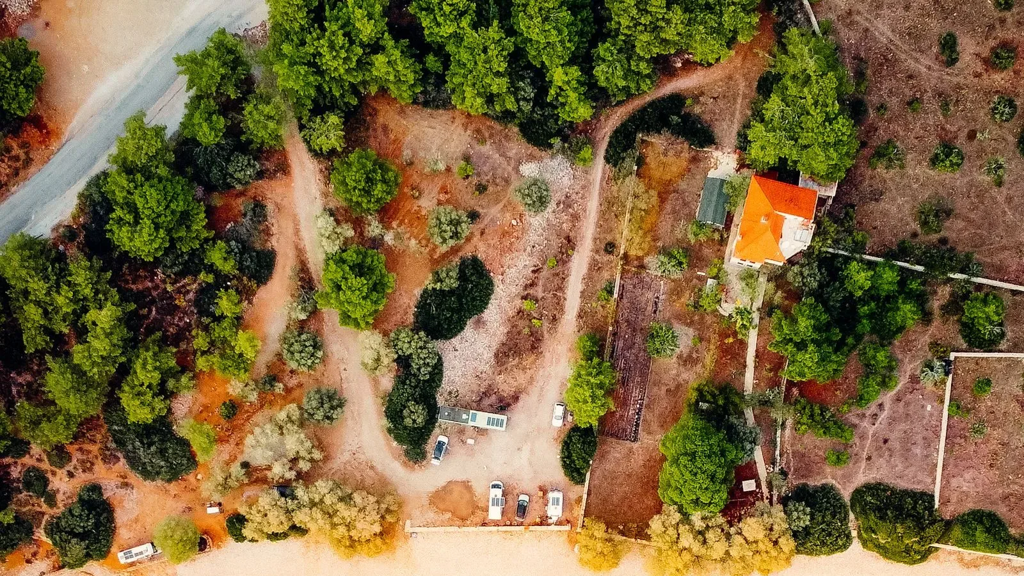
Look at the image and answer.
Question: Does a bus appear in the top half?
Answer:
No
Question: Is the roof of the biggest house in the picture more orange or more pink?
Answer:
orange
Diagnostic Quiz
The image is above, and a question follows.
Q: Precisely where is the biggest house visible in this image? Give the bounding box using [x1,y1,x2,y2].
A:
[725,175,819,269]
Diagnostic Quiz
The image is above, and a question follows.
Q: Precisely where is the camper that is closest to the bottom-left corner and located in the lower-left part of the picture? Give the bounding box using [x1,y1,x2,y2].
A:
[116,536,166,564]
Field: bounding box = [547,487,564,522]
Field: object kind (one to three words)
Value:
camper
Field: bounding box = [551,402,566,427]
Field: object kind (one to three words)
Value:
car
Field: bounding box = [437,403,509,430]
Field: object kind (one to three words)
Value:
bus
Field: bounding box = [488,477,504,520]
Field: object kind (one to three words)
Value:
vehicle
